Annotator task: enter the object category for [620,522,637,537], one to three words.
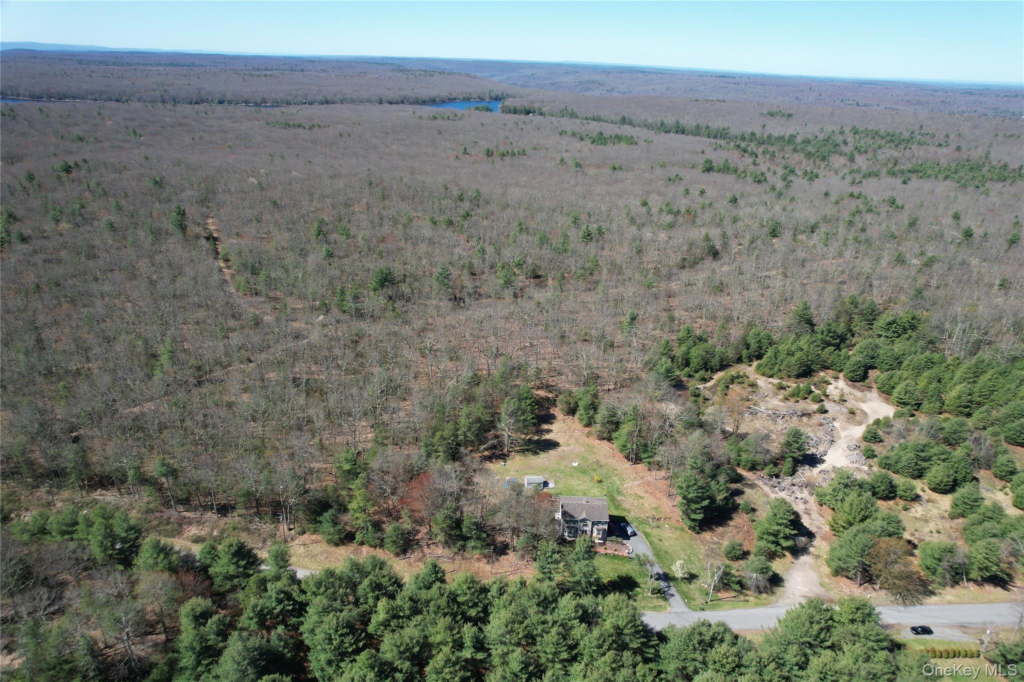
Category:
car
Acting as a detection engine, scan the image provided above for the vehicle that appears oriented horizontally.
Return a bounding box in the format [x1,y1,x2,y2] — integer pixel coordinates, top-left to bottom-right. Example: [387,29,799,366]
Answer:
[908,625,935,638]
